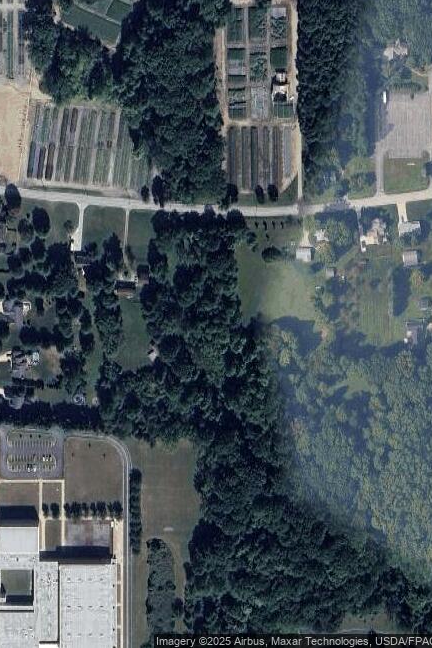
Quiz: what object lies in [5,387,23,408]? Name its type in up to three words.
house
